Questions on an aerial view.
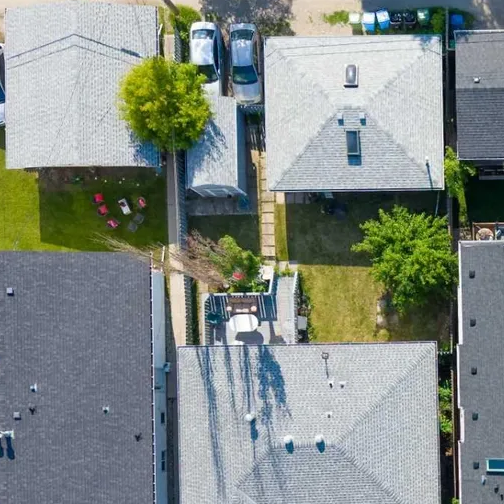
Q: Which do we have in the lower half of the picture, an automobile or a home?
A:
home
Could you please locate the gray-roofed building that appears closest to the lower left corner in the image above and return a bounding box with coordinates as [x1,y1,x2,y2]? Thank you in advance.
[0,249,175,504]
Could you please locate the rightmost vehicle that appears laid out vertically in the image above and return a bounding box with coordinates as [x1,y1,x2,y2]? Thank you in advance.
[229,24,266,107]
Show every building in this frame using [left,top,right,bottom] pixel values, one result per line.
[454,29,504,166]
[457,239,504,504]
[178,342,441,504]
[263,33,446,194]
[4,1,169,170]
[0,249,175,504]
[186,95,249,193]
